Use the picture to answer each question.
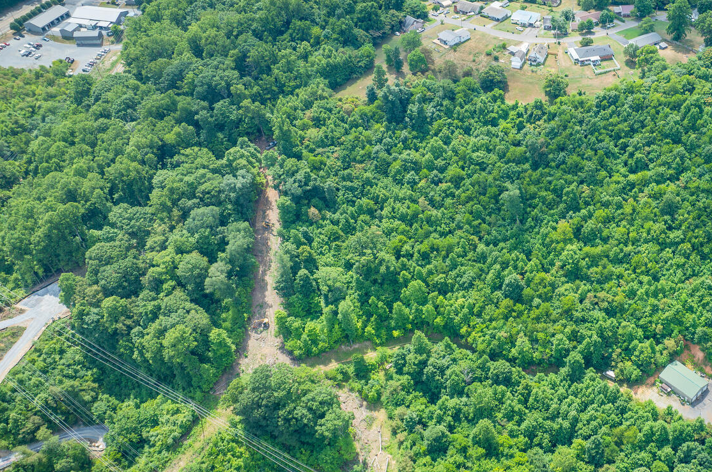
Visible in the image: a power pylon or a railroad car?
power pylon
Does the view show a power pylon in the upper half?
No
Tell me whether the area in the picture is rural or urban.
rural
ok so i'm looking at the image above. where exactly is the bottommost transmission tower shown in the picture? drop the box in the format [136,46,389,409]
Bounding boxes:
[182,393,209,432]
